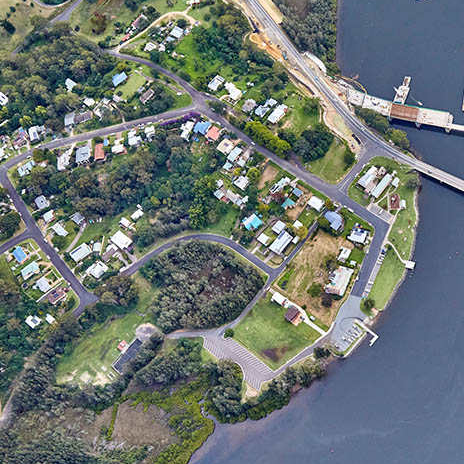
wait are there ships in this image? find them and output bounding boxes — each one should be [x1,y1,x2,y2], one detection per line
[395,83,410,104]
[403,76,412,88]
